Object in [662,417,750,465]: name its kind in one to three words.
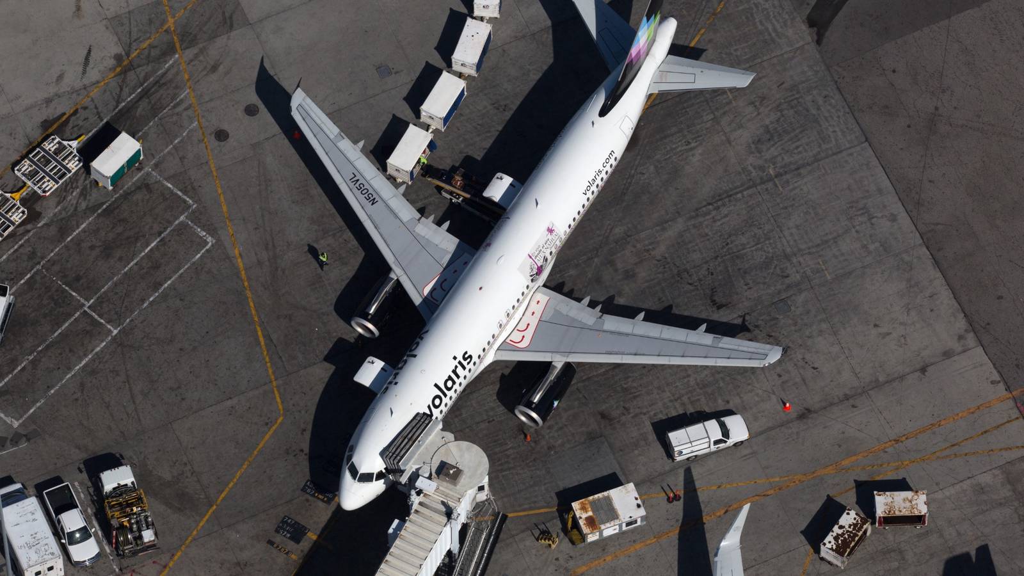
truck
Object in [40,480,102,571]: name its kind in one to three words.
truck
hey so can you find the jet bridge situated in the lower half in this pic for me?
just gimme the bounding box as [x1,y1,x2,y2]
[373,412,492,576]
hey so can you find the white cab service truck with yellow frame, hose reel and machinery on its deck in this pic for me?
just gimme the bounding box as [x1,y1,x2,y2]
[92,461,159,568]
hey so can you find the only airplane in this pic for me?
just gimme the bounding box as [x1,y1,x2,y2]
[288,0,790,510]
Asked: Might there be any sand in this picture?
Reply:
No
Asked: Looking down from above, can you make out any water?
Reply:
No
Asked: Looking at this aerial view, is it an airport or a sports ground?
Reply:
airport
